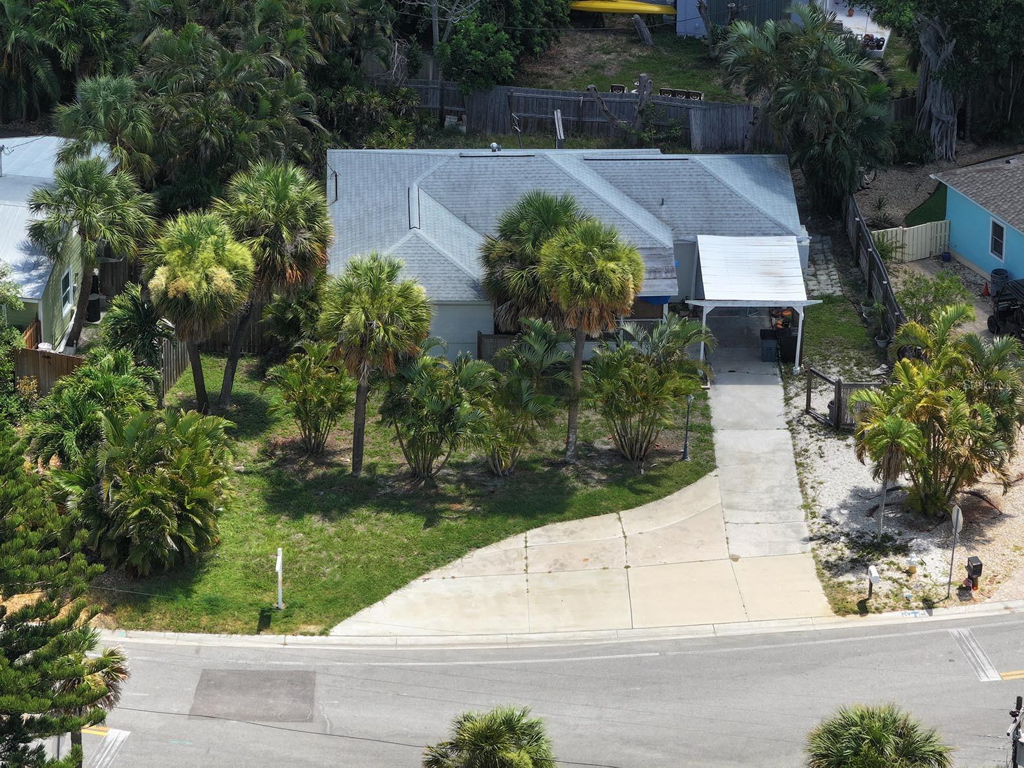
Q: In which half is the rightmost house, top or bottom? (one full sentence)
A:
It is in the top half that the rightmost house appears.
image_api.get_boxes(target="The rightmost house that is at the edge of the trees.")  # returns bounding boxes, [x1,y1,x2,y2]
[931,152,1024,283]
